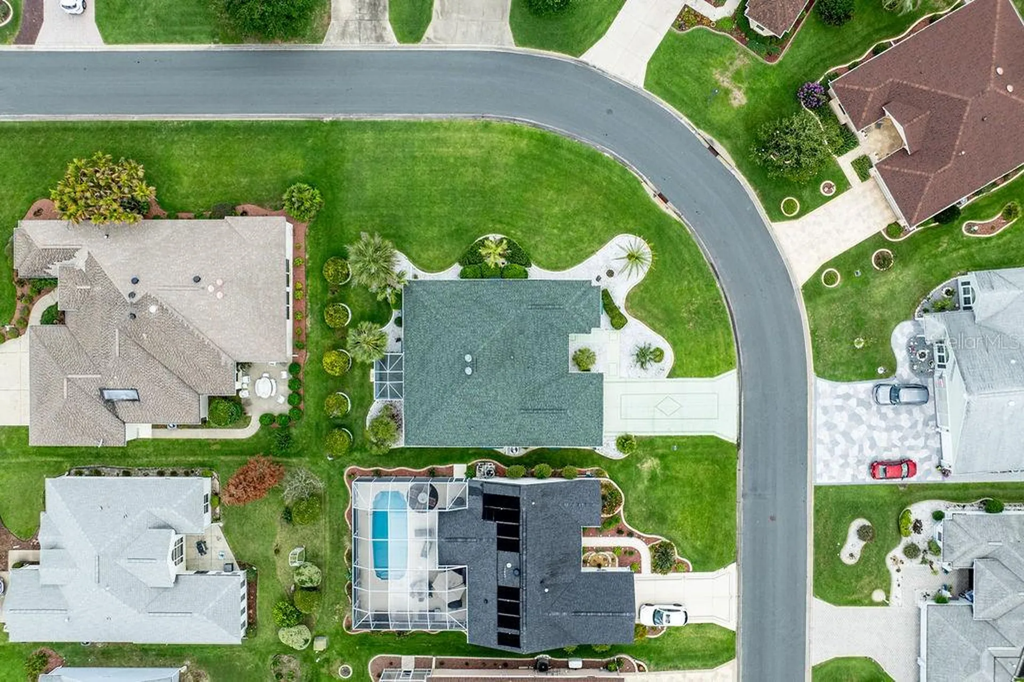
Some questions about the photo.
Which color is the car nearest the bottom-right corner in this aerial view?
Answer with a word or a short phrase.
red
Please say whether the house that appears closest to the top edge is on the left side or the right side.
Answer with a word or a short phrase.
right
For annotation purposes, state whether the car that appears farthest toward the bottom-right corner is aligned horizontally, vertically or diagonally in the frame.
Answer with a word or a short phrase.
horizontally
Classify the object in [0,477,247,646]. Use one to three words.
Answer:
house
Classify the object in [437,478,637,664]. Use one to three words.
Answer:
house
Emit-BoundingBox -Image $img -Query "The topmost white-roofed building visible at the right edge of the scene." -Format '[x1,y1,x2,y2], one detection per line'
[913,268,1024,475]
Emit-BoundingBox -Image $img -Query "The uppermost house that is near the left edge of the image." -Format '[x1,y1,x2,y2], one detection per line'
[13,215,292,446]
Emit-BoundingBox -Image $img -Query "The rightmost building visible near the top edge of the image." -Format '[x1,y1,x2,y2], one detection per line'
[825,0,1024,229]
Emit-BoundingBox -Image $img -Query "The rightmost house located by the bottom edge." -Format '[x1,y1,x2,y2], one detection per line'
[915,512,1024,682]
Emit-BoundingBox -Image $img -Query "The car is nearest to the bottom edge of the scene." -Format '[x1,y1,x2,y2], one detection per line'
[639,603,687,628]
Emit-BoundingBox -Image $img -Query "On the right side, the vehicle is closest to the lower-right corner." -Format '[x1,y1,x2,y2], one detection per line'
[868,459,916,481]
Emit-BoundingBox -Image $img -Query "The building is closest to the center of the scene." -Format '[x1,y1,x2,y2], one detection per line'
[403,279,604,448]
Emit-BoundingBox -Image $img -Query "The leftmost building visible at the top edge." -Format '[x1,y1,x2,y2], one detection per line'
[744,0,807,43]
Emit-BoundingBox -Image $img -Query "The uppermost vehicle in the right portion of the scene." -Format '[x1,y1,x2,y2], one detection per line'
[872,383,929,407]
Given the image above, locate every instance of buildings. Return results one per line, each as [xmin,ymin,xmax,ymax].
[13,215,292,446]
[913,268,1024,475]
[37,660,187,682]
[403,279,604,448]
[915,512,1024,682]
[0,477,247,646]
[426,669,625,682]
[437,478,637,664]
[744,0,807,43]
[825,0,1024,229]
